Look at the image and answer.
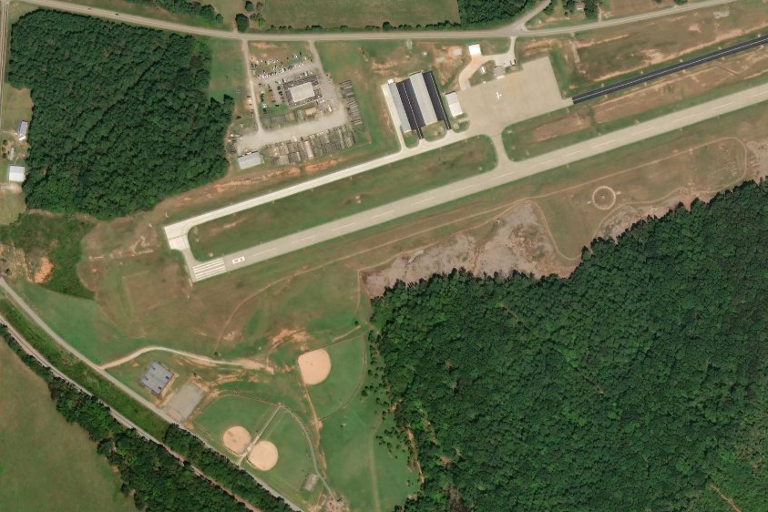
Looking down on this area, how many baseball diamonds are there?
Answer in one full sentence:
The photo contains 3 baseball diamonds.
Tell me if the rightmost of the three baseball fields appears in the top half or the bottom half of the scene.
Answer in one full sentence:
The bottom half of the photo is where the rightmost of the three baseball fields is.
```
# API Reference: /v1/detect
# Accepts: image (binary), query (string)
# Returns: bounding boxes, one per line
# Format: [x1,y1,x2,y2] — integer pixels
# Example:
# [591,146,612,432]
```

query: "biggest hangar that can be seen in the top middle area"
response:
[410,73,438,125]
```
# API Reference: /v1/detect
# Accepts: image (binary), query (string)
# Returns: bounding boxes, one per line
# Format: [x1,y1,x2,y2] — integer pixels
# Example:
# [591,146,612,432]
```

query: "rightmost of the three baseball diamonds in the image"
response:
[299,336,367,427]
